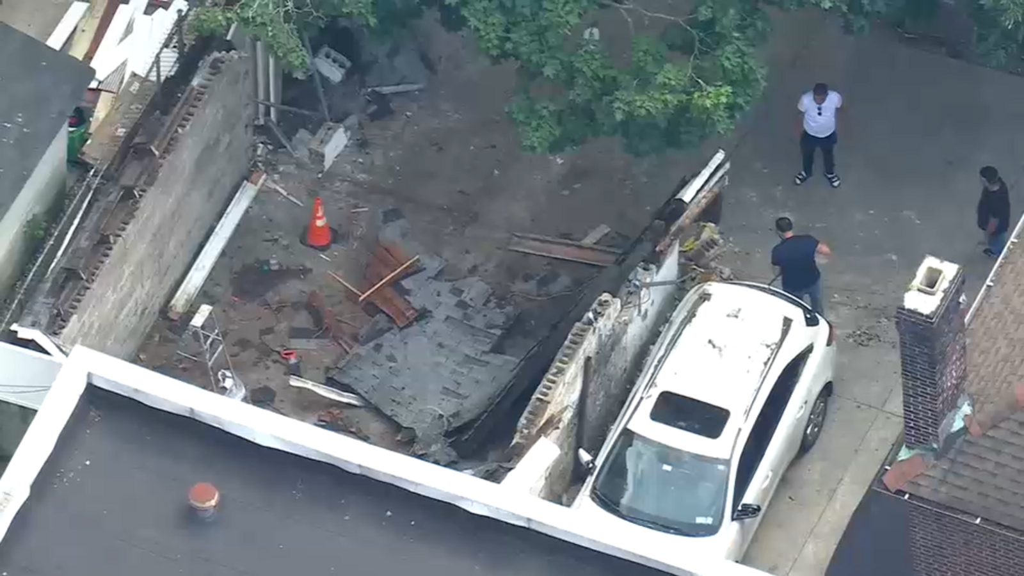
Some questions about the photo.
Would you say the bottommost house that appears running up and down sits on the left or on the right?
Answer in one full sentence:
The bottommost house that appears running up and down is on the right side of the image.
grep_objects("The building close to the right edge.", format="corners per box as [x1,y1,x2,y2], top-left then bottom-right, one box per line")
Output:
[862,198,1024,576]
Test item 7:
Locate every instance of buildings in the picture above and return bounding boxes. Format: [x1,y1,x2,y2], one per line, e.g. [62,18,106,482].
[0,42,98,326]
[862,198,1024,576]
[0,347,754,576]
